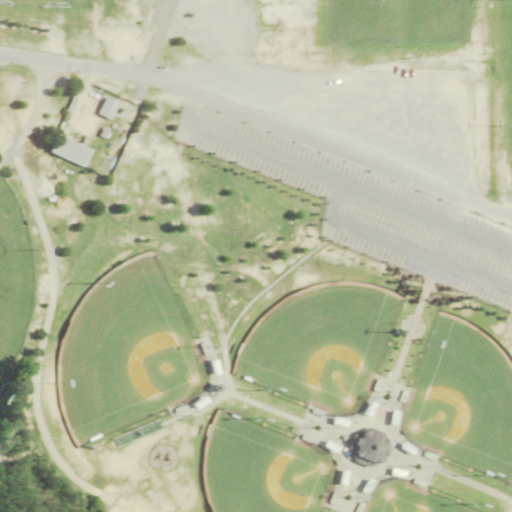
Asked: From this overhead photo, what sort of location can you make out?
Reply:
sports ground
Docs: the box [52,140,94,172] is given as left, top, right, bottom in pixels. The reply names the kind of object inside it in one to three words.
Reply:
barn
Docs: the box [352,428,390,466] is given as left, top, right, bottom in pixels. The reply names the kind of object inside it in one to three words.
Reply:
building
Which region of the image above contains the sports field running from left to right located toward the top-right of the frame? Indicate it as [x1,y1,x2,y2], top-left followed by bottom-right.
[316,0,473,63]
